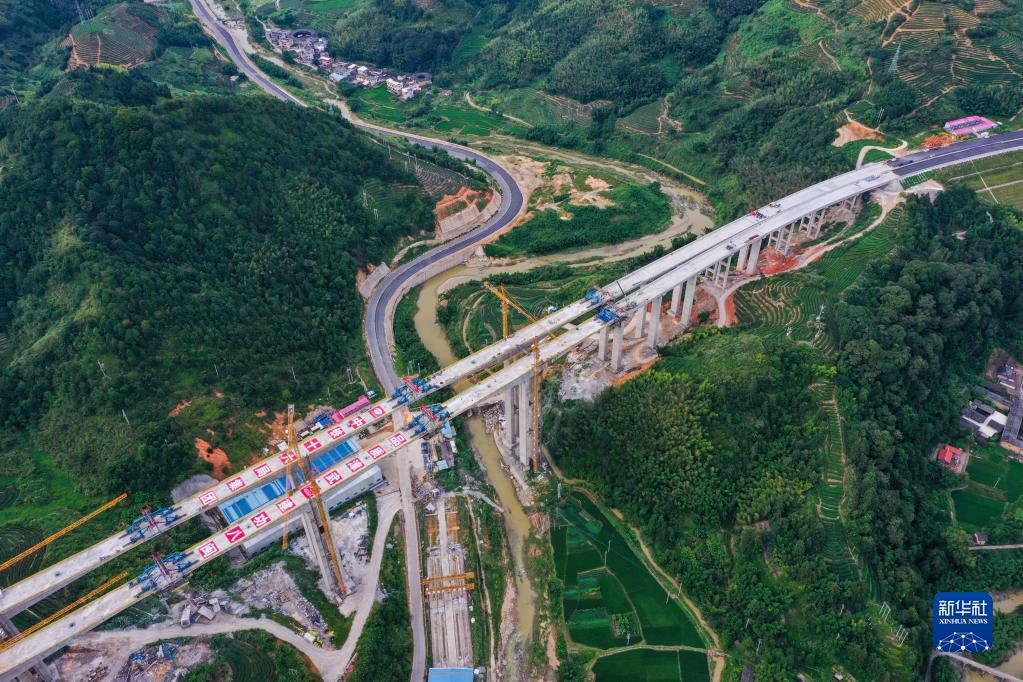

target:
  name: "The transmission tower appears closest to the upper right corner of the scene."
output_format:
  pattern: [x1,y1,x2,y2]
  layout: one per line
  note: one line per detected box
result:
[889,39,906,72]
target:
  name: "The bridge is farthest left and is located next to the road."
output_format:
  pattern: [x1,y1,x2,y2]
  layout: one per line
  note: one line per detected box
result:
[0,170,911,682]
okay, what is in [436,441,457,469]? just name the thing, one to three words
shed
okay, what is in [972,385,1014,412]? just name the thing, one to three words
house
